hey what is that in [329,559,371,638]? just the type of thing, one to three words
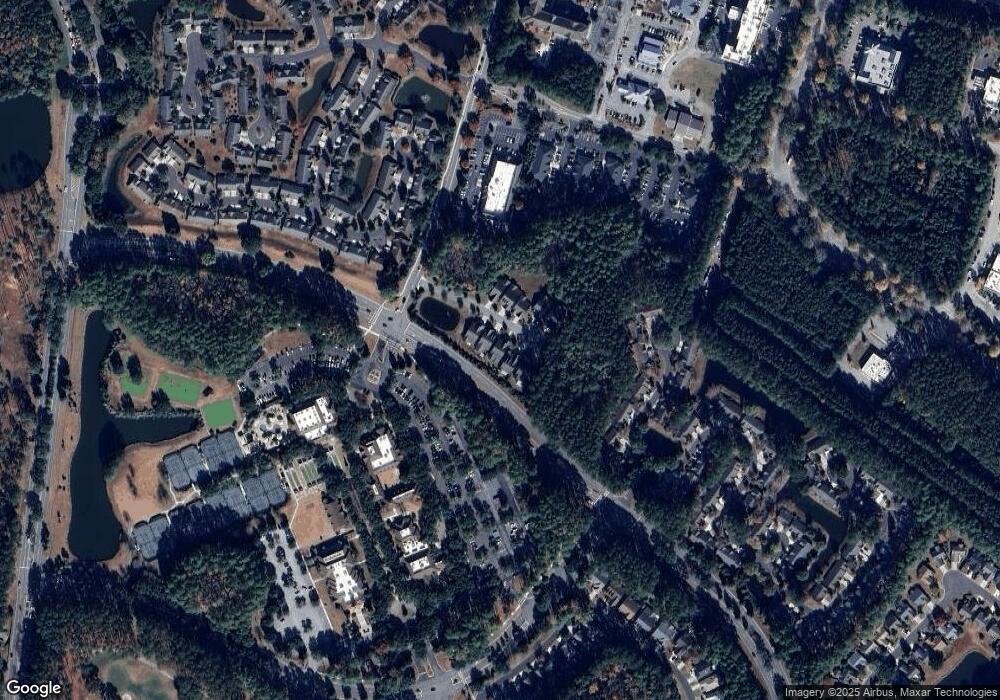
building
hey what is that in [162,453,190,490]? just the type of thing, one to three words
tennis court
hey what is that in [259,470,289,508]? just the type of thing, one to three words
tennis court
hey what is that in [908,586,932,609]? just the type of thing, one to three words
house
